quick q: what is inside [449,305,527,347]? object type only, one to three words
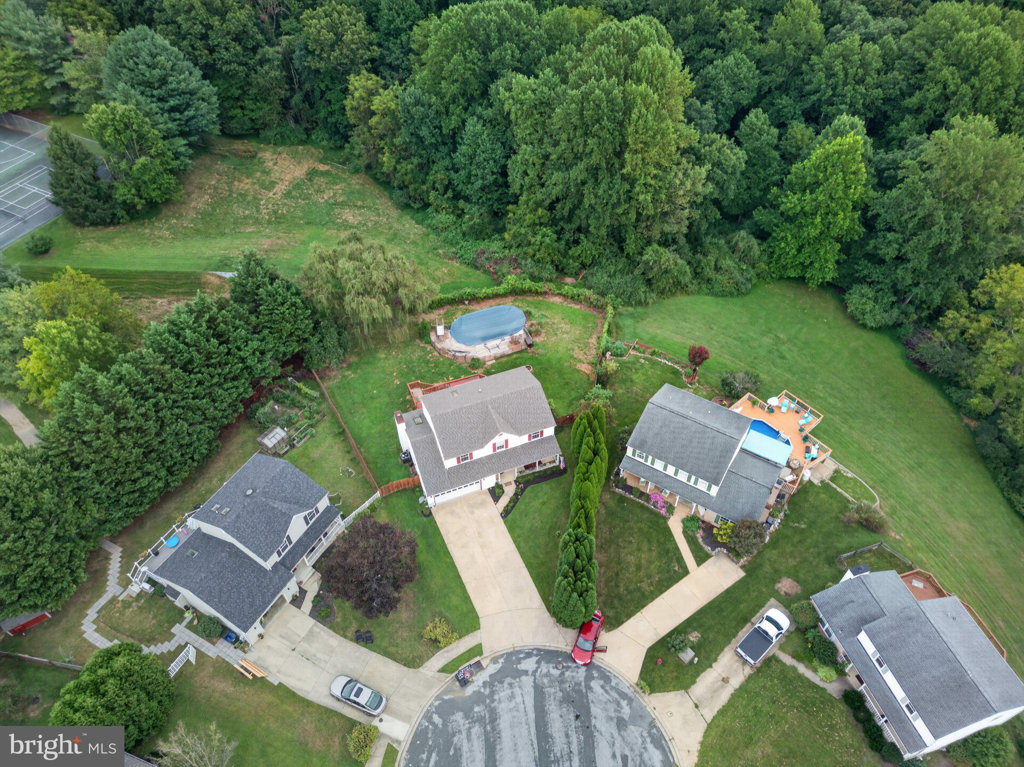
swimming pool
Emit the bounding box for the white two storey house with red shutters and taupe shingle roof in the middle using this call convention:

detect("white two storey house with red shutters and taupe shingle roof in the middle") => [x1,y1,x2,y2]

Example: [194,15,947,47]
[392,366,563,509]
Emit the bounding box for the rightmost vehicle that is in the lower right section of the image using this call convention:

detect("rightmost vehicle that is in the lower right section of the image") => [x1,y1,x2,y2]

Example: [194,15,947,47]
[732,608,790,668]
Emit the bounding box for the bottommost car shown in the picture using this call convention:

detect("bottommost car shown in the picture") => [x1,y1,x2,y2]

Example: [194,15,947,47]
[328,677,389,718]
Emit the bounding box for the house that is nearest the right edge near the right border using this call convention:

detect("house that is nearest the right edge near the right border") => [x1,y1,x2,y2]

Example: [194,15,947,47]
[812,559,1024,763]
